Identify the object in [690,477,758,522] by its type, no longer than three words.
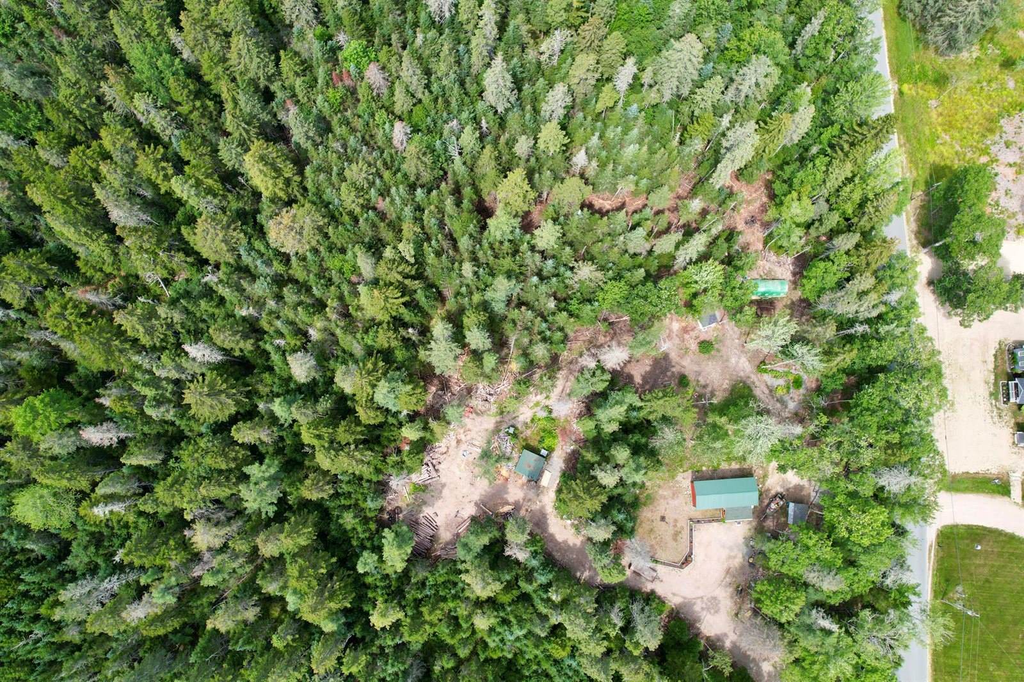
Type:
building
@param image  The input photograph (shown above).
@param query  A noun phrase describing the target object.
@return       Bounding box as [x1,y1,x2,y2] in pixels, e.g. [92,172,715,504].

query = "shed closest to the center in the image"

[515,449,545,480]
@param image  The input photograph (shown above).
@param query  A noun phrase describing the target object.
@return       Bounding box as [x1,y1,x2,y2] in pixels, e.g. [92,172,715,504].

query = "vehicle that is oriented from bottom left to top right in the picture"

[756,490,791,521]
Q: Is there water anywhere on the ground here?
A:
No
